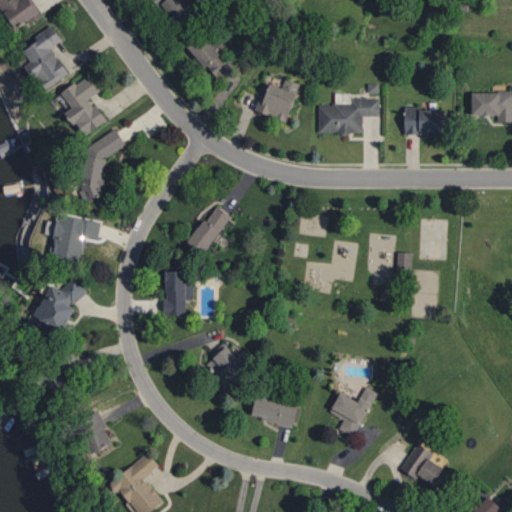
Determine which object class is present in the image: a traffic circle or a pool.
pool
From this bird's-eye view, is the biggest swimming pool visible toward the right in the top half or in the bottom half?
bottom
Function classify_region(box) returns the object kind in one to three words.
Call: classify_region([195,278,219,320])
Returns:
swimming pool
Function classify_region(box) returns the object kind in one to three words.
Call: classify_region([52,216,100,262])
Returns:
house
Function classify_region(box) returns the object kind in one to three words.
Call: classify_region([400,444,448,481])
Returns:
house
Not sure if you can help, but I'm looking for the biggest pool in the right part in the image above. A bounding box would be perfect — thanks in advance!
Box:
[336,359,372,398]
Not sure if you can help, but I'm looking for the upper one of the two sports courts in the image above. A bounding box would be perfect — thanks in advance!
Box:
[420,219,448,262]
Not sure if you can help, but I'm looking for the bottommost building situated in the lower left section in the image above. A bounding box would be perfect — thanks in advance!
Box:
[108,455,164,512]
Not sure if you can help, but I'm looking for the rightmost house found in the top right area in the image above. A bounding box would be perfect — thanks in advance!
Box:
[472,84,512,123]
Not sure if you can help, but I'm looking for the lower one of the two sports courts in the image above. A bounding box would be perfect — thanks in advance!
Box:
[412,270,439,319]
